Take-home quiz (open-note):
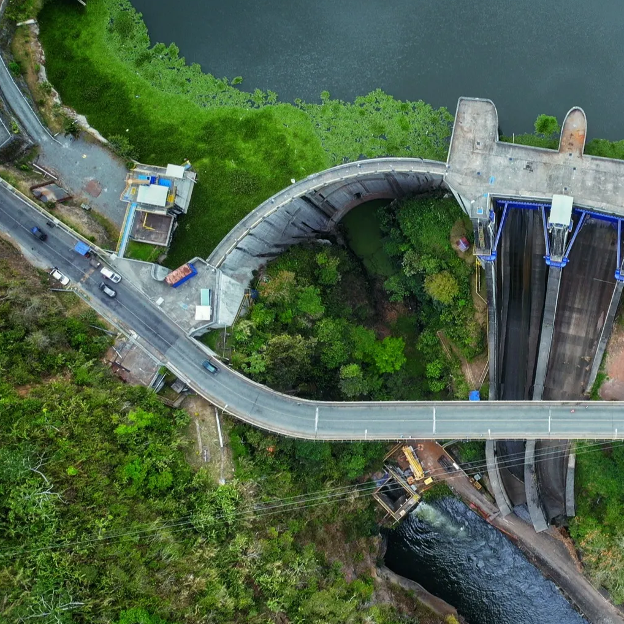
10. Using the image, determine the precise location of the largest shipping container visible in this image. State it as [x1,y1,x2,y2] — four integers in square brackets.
[166,262,199,287]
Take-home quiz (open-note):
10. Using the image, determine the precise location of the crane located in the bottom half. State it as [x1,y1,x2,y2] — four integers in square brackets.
[395,441,434,481]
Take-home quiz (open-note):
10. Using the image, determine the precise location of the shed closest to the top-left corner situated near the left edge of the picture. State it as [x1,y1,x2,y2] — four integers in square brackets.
[29,180,78,205]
